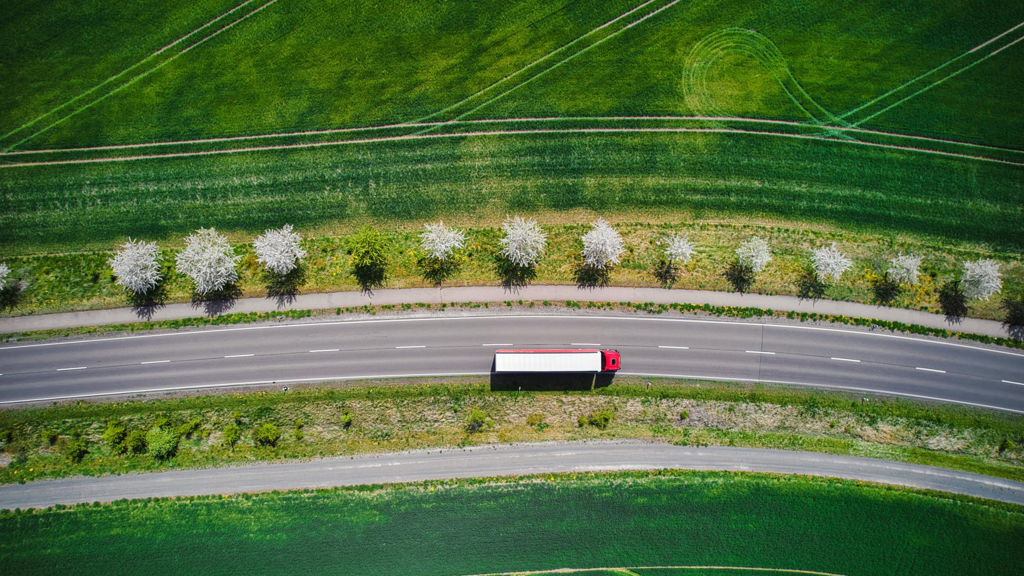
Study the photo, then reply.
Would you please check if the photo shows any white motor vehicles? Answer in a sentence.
Yes, the frame does contain a white motor vehicle.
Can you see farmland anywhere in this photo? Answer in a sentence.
Yes, there is farmland in the image.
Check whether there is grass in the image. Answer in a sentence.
Yes, there's grass in this view.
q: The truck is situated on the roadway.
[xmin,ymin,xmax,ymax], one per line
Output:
[496,348,621,372]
